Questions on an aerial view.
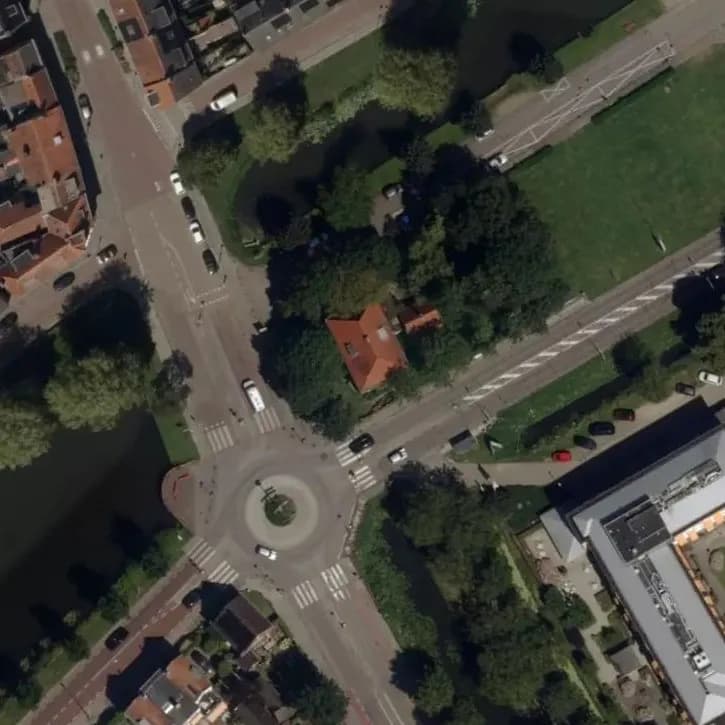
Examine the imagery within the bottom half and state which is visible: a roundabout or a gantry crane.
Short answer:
roundabout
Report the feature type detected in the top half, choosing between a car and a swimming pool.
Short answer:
car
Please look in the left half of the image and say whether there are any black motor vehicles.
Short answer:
Yes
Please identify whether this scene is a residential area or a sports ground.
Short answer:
residential area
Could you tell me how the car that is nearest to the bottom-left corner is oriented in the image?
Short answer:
on a diagonal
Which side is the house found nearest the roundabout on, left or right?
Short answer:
left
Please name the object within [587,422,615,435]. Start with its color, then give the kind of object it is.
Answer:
black vehicle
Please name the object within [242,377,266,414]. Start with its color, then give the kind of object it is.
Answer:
white vehicle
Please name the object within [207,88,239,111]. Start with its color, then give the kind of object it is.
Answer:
white vehicle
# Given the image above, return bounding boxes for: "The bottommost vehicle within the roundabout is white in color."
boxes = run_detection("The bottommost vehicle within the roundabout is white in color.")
[253,543,278,561]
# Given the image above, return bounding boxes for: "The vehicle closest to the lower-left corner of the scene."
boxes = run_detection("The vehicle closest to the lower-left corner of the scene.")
[103,626,130,651]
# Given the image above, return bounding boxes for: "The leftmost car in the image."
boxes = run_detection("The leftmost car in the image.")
[0,311,21,331]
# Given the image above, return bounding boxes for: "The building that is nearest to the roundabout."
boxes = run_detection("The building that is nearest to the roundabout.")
[215,593,272,654]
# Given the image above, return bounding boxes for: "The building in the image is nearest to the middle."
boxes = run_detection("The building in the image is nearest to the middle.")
[326,307,407,394]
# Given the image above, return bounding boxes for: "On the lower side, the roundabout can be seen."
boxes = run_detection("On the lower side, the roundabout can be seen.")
[207,437,355,585]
